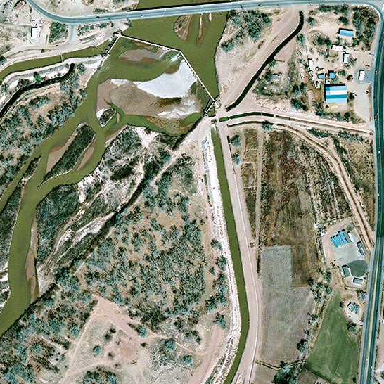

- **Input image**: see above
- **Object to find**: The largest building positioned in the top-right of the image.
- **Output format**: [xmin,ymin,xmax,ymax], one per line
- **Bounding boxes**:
[326,84,347,103]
